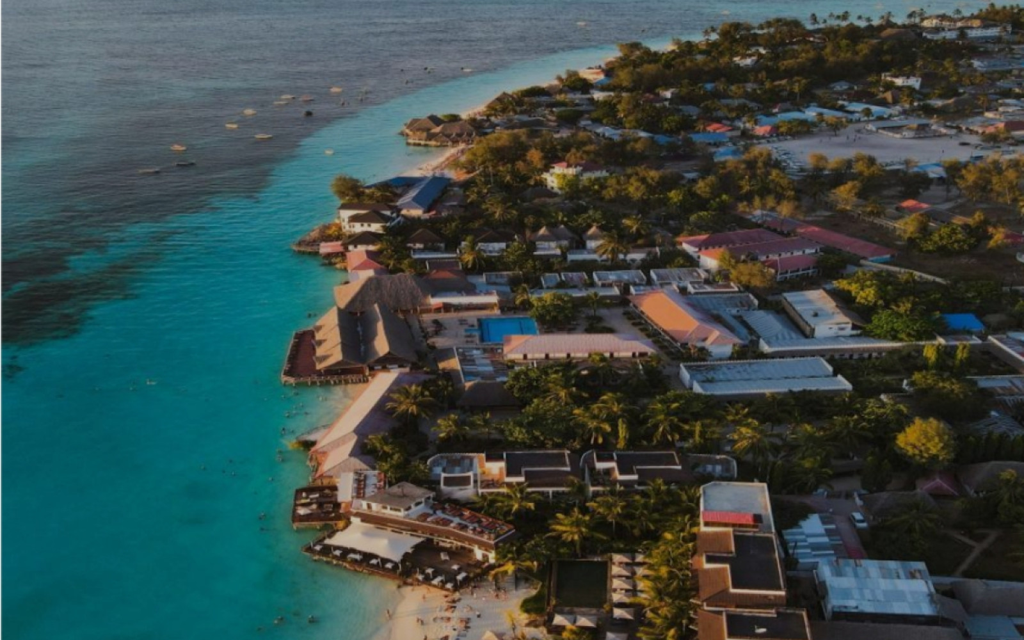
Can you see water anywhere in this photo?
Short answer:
Yes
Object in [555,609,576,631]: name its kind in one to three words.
umbrella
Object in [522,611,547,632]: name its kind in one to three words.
umbrella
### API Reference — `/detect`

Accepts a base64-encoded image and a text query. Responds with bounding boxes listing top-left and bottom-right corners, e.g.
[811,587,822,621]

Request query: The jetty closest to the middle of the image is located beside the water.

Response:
[282,324,371,392]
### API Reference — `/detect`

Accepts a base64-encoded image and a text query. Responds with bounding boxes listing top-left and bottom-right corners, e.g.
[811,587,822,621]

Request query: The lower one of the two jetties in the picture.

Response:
[292,489,348,536]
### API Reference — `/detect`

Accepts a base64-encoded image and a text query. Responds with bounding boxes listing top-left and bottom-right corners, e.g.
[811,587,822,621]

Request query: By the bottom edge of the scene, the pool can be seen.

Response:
[544,555,614,615]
